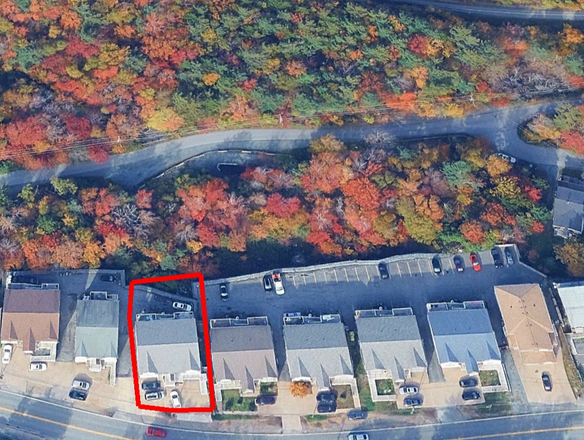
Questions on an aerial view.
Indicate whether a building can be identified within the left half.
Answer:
Yes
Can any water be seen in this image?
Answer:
No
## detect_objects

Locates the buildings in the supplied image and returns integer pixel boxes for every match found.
[552,175,584,240]
[283,313,361,408]
[1,282,61,363]
[556,281,584,343]
[425,299,511,394]
[210,315,277,403]
[355,304,427,403]
[74,291,119,386]
[493,283,562,367]
[136,311,209,395]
